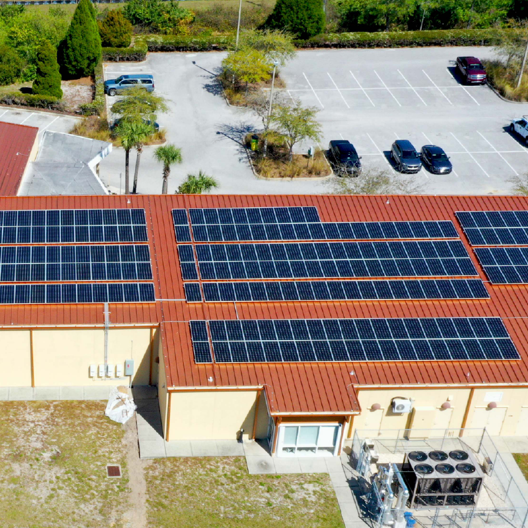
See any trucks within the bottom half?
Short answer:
No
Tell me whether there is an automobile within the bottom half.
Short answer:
No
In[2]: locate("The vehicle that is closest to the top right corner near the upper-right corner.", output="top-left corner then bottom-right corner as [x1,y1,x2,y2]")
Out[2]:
[450,54,486,82]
